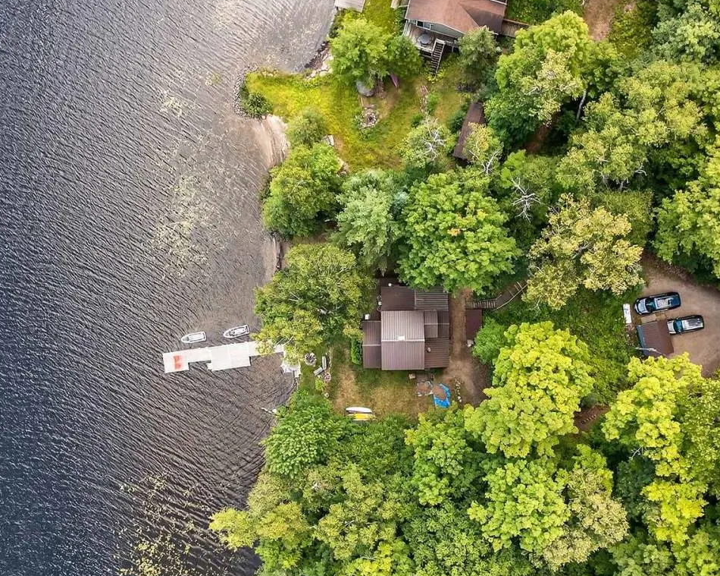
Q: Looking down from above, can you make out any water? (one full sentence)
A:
Yes, the picture does contain water.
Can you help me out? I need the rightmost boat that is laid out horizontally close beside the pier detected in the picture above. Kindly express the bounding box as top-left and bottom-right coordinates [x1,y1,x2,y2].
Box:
[224,324,251,337]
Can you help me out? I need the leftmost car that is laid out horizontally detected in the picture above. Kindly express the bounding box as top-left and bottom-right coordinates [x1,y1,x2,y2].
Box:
[632,293,681,314]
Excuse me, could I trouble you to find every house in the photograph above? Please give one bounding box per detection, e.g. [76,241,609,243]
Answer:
[400,0,507,75]
[364,274,450,370]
